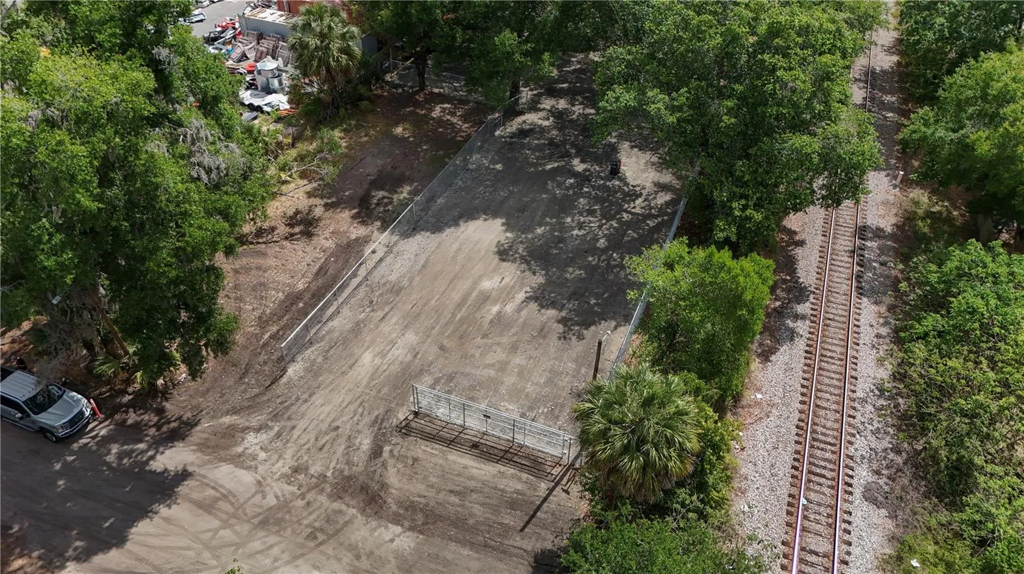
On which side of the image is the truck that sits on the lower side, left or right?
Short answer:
left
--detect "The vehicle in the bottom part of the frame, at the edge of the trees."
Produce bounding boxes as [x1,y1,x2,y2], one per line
[0,359,94,444]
